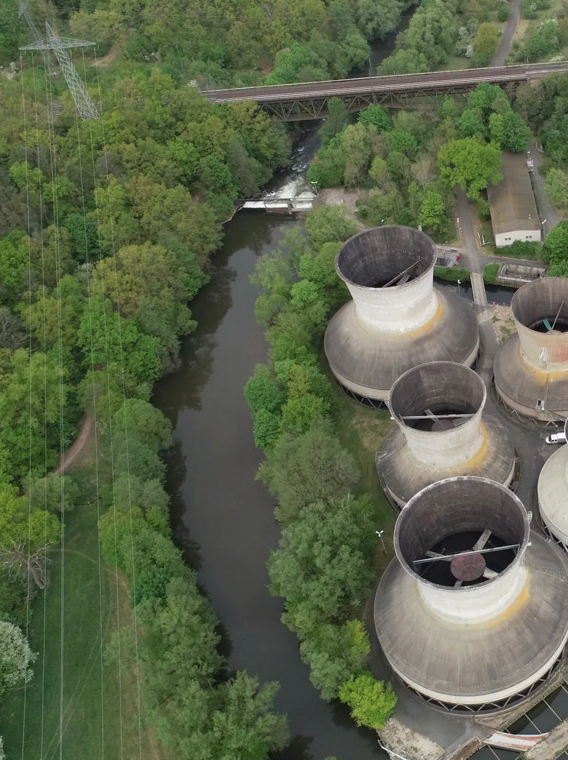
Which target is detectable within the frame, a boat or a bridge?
bridge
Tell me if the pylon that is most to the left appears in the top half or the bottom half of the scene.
top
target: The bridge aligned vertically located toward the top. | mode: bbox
[471,270,490,307]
